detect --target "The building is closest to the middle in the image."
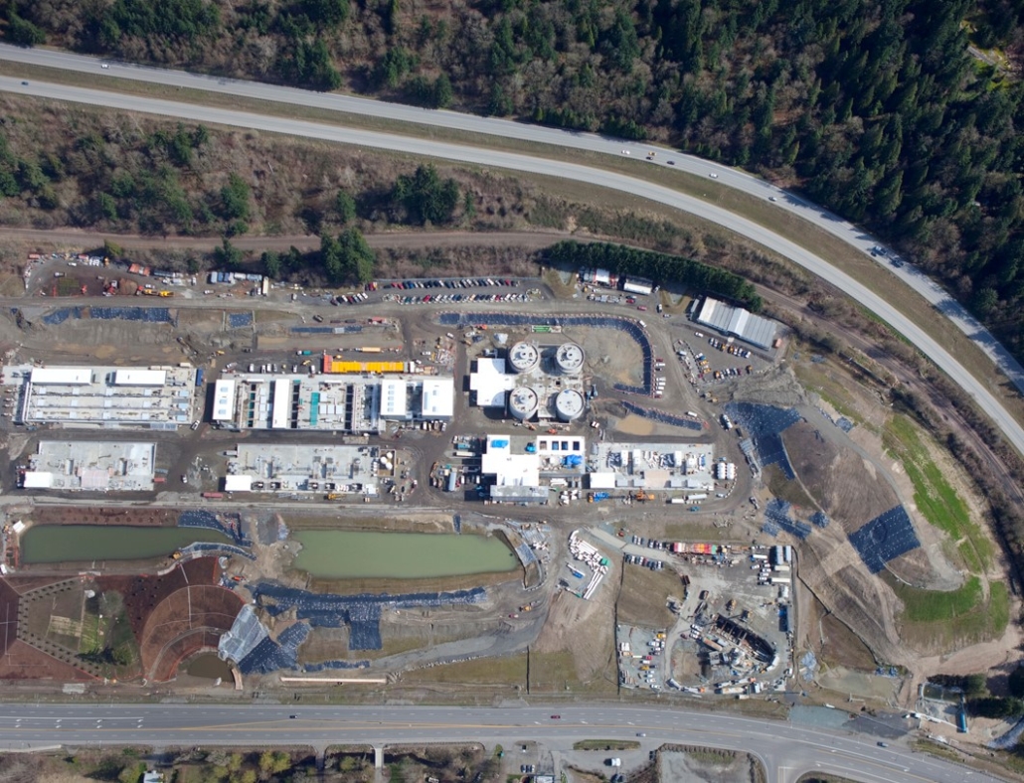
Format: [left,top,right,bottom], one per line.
[470,358,514,407]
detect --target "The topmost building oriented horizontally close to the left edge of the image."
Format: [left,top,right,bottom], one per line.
[22,367,199,430]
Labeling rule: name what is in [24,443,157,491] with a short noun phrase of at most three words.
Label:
building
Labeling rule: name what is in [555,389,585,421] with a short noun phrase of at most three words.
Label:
storage tank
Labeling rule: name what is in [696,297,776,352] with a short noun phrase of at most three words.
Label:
building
